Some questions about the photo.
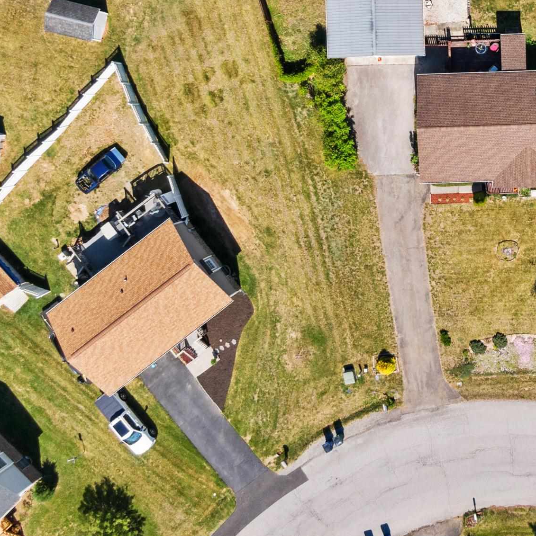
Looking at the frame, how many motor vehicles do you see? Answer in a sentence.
In total, there are 2 motor vehicles in the scene.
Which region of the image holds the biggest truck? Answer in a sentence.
You can find the biggest truck in the bottom left area of the picture.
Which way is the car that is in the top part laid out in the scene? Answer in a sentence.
From this overhead view, the car that is in the top part appears to run on a diagonal.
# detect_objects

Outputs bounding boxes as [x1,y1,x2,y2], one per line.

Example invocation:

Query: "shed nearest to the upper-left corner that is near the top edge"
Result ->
[45,0,114,43]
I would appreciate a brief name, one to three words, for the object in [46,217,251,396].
house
